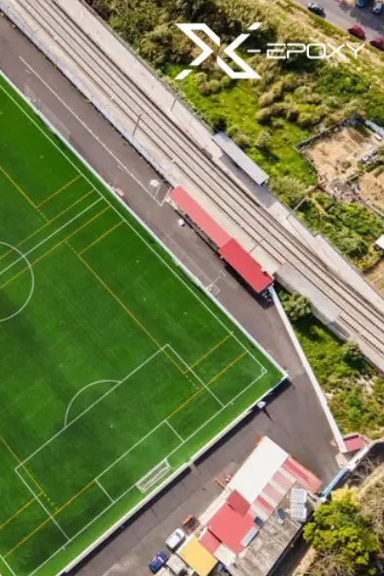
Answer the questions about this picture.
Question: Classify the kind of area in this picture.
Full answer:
This looks like a sports ground.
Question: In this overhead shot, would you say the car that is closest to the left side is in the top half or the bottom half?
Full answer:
It is in the bottom half that the car that is closest to the left side appears.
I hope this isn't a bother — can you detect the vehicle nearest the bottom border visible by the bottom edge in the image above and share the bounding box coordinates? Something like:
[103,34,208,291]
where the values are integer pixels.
[148,553,168,573]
